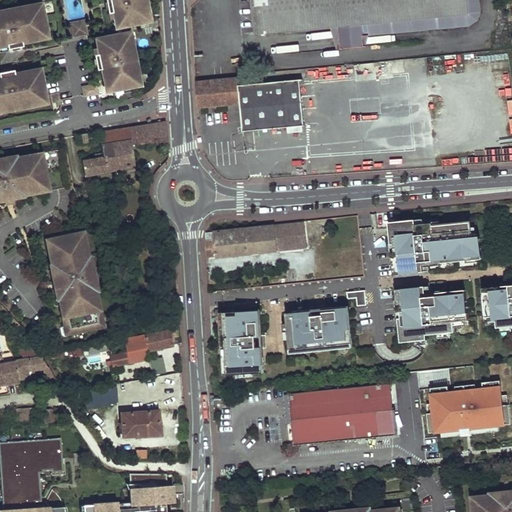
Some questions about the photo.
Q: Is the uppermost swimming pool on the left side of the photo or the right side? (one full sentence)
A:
The uppermost swimming pool is on the left side of the image.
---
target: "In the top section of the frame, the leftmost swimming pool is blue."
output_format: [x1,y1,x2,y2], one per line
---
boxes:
[64,0,86,22]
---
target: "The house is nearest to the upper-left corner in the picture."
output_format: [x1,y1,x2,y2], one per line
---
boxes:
[0,2,52,52]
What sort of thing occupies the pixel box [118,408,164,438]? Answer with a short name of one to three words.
house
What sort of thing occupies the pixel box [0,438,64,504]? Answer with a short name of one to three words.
building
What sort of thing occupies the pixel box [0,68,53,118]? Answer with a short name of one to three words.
house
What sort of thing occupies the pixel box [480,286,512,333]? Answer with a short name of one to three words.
building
